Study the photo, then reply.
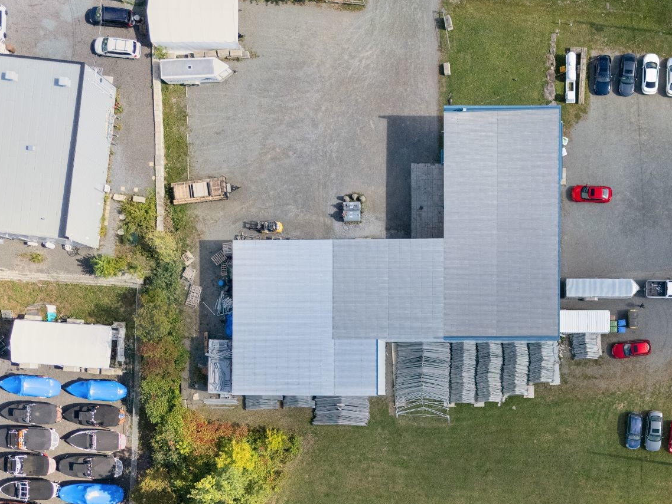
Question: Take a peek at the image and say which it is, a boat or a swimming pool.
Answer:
boat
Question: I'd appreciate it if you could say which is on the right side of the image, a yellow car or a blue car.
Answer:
blue car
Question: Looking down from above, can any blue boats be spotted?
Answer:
Yes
